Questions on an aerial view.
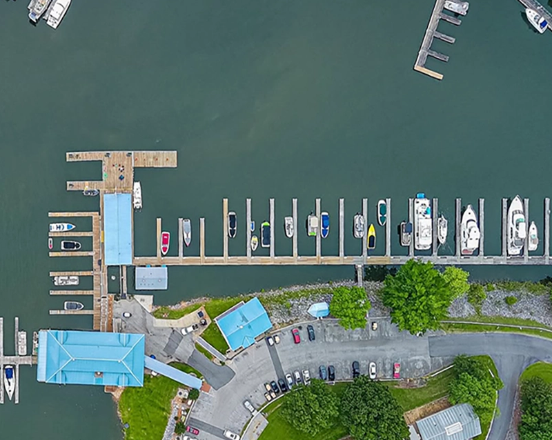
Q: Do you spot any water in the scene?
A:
Yes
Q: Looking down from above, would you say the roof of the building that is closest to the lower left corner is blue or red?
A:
blue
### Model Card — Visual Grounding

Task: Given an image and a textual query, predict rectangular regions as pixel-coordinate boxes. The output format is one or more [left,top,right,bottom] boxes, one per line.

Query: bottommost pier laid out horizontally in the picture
[134,197,552,265]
